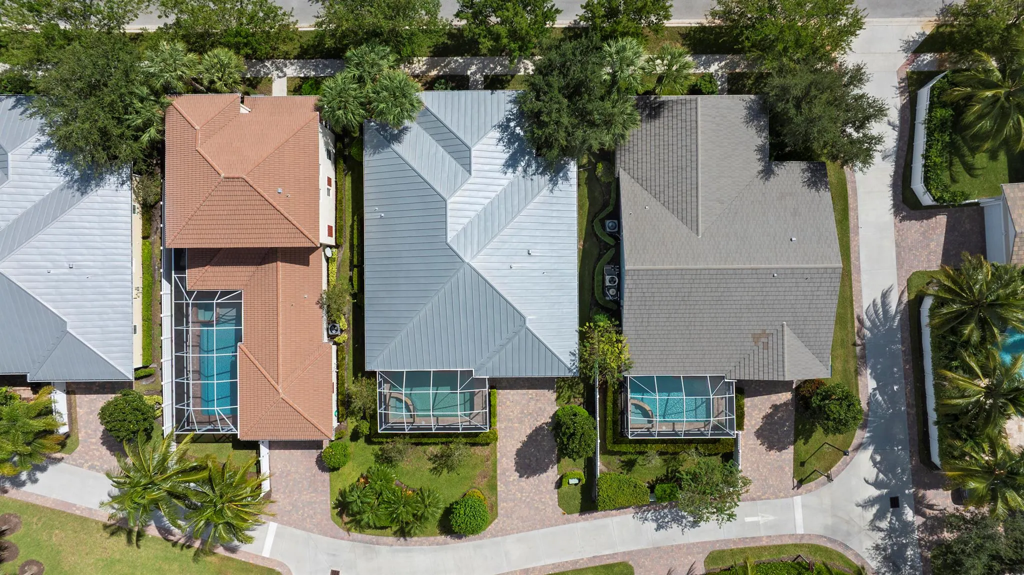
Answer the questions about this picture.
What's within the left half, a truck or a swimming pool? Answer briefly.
swimming pool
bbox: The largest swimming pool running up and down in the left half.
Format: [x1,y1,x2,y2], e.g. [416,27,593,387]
[197,304,241,419]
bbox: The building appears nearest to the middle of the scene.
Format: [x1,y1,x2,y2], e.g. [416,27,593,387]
[363,89,580,377]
